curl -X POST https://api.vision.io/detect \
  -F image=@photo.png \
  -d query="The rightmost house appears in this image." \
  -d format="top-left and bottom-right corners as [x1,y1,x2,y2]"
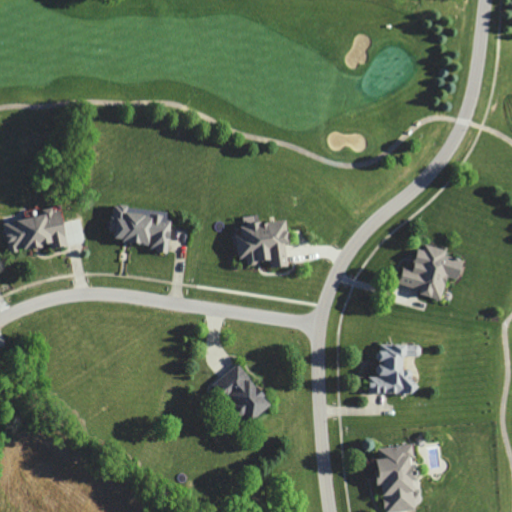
[401,244,466,299]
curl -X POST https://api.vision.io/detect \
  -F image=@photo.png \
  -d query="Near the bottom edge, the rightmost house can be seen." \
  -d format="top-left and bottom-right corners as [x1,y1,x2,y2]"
[376,444,422,512]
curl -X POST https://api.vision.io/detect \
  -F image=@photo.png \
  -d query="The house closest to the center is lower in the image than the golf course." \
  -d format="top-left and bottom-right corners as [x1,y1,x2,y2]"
[235,214,290,268]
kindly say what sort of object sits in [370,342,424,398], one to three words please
house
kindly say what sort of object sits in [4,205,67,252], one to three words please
house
